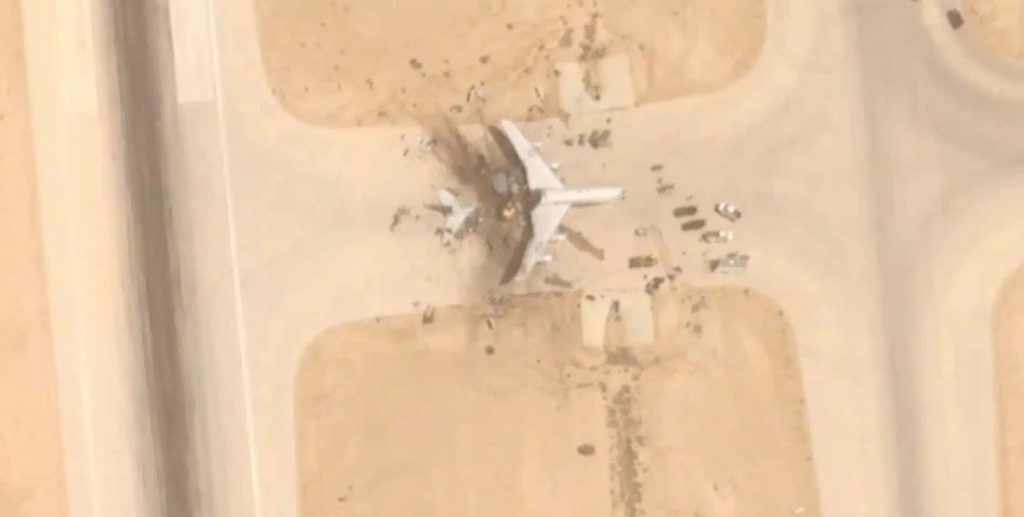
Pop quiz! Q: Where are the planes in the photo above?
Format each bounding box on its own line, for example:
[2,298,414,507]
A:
[501,119,627,281]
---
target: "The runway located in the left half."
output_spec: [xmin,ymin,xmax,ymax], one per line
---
[21,0,259,517]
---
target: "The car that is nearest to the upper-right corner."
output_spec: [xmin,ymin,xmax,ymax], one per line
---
[949,9,964,26]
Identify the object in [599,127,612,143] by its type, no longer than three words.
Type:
vehicle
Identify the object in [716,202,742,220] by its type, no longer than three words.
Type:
vehicle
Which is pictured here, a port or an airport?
airport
